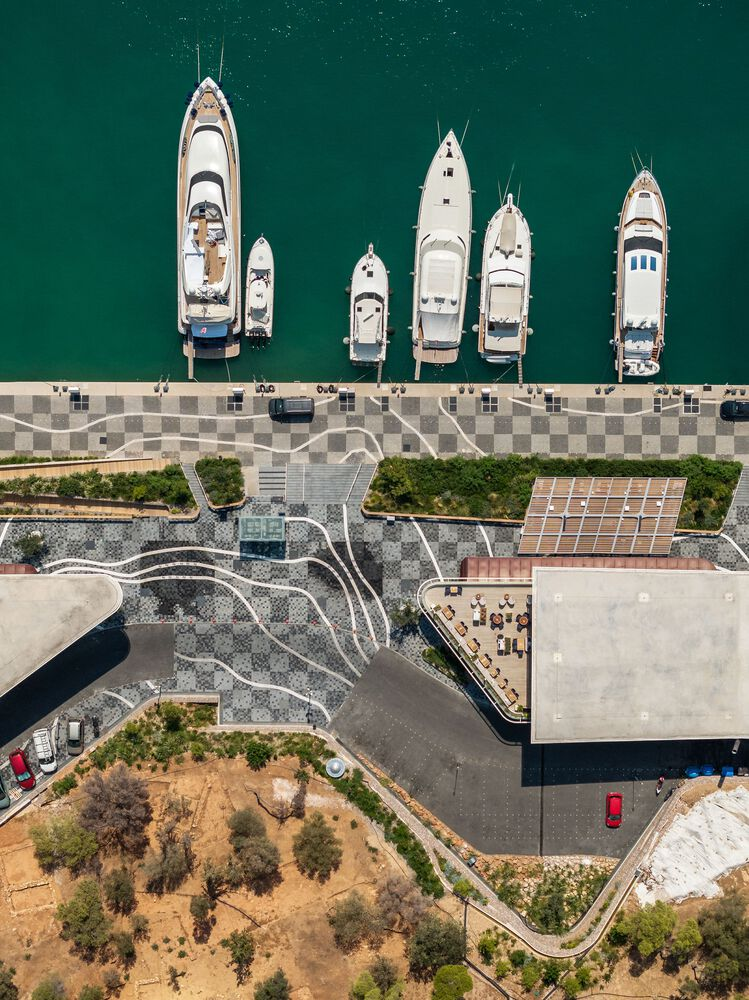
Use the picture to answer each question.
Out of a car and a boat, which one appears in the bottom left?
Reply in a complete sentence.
What appears in the bottom left is a car.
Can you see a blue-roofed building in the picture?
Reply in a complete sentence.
No, I can see no blue-roofed building in this picture.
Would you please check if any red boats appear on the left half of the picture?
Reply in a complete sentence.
No, no red boat appears on the left half of the picture.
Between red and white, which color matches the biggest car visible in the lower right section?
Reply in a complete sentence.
In this view, the biggest car visible in the lower right section is red.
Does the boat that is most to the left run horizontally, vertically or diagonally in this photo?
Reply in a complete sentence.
From this overhead view, the boat that is most to the left appears to run vertically.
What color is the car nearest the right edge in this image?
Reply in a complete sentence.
The car nearest the right edge is black.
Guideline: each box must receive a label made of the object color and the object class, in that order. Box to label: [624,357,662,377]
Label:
white boat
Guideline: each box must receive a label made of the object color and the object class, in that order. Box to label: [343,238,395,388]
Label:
white boat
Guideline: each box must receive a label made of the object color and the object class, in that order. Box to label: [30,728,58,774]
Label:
white vehicle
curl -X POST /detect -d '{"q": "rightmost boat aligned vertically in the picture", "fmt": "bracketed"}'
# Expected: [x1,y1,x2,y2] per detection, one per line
[606,152,671,383]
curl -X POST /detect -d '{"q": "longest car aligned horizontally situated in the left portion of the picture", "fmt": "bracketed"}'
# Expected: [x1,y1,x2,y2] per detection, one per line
[268,397,313,419]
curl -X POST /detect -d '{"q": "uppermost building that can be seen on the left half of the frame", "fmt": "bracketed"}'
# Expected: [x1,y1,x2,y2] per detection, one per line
[240,516,286,542]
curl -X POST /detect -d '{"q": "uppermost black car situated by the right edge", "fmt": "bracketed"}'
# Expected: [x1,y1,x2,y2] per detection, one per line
[722,399,749,421]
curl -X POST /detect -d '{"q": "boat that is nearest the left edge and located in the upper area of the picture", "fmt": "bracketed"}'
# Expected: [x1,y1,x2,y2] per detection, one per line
[178,38,241,383]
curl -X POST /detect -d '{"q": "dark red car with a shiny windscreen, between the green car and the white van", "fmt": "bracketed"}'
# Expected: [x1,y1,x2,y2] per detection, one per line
[8,748,33,790]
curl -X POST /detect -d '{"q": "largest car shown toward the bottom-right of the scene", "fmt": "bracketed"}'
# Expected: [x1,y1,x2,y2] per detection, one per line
[603,792,625,829]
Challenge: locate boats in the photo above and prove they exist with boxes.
[343,238,395,388]
[408,121,476,383]
[606,152,671,383]
[472,166,537,384]
[246,233,274,349]
[178,38,241,383]
[624,357,662,377]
